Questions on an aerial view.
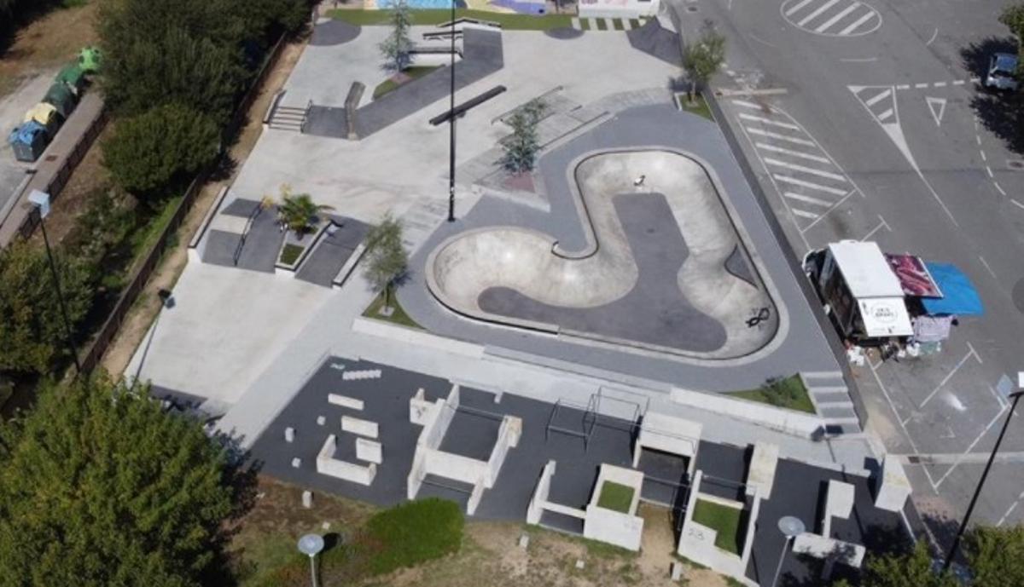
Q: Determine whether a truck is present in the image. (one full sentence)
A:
Yes, there's a truck here.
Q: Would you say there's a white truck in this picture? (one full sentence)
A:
Yes, looking at the shot, I can spot a white truck.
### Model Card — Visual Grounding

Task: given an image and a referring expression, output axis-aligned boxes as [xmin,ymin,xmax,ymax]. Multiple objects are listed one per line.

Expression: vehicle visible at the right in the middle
[811,242,913,350]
